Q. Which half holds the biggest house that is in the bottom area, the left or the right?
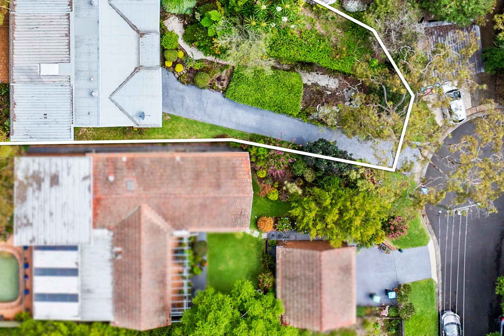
left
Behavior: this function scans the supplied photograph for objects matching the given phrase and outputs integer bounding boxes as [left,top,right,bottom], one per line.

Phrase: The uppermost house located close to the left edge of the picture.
[10,0,162,140]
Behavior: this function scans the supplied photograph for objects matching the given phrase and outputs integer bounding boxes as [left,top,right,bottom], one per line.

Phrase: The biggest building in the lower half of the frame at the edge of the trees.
[14,151,254,332]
